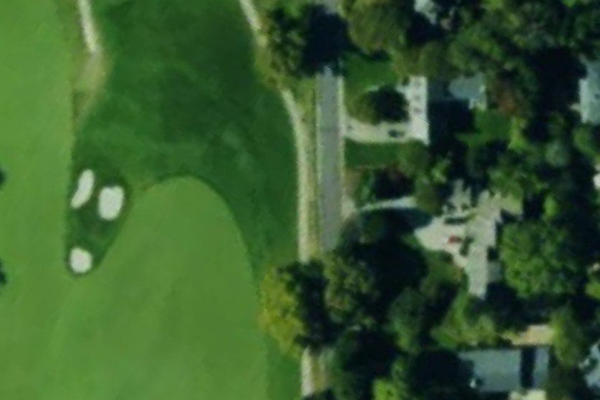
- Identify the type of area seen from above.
golf course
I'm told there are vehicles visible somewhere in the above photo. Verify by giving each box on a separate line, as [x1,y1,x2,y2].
[385,131,402,138]
[444,235,461,244]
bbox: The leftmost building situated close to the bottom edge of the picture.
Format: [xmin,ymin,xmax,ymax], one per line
[460,346,549,392]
